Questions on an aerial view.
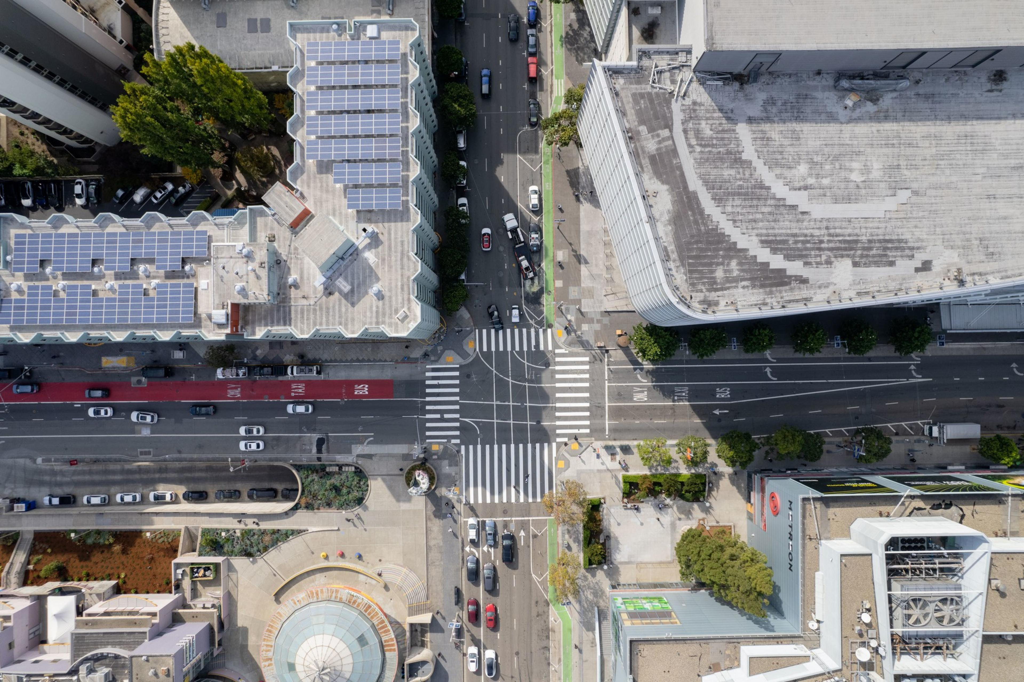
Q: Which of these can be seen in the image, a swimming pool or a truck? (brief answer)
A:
truck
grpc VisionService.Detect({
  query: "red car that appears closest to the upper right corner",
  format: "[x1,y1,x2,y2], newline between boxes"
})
[527,57,539,83]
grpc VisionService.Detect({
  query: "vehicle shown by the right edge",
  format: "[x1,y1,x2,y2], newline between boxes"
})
[922,423,980,439]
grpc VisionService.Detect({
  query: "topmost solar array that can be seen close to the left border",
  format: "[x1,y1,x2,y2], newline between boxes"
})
[12,231,207,273]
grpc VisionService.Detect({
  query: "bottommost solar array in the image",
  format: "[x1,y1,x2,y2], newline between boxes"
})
[0,282,194,324]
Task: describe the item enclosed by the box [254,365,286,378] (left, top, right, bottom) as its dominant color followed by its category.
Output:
black vehicle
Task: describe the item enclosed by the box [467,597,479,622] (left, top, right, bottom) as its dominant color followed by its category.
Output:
red vehicle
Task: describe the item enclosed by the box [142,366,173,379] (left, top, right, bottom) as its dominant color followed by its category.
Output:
black vehicle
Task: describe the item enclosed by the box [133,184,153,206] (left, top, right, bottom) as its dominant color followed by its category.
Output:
gray car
